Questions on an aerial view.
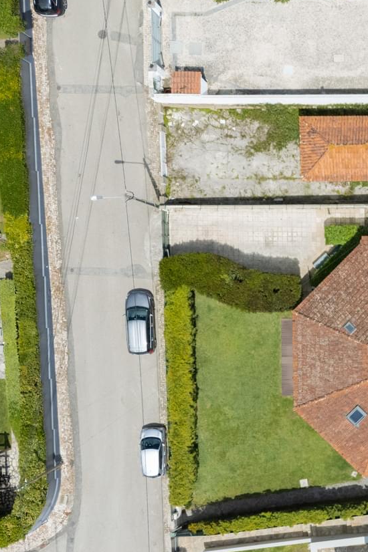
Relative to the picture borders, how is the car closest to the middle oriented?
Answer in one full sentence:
In this picture, the car closest to the middle lies vertically.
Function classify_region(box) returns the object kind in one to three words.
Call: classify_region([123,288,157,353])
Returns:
car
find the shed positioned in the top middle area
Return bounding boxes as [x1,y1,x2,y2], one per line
[171,71,213,94]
